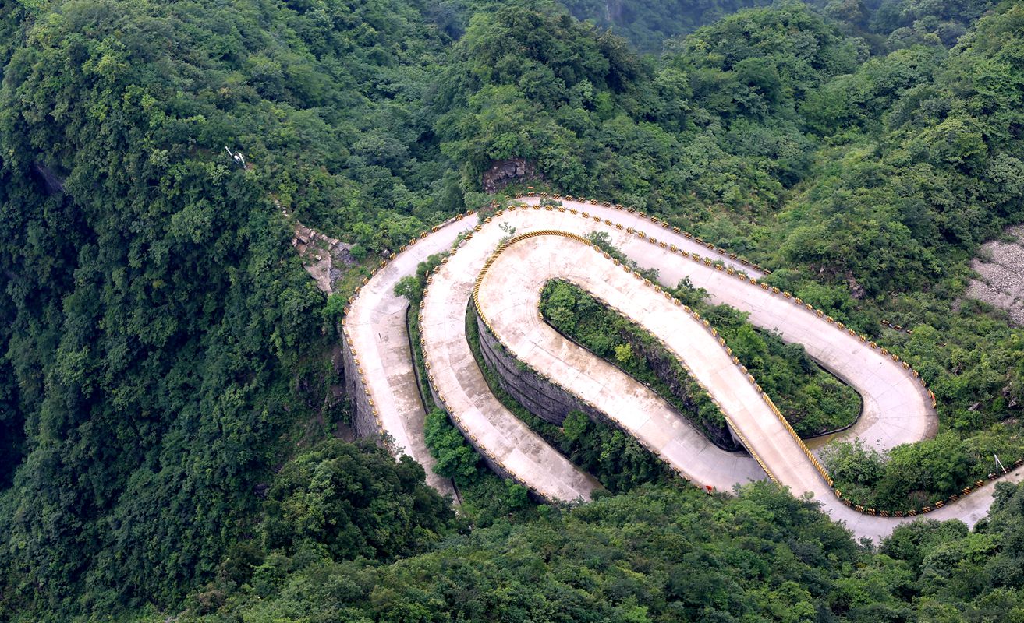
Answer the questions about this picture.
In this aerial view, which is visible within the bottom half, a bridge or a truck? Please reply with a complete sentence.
What appears within the bottom half is a bridge.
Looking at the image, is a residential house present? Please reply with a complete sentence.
No, the photo shows no residential house.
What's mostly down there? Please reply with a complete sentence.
What you mostly see from above here is trees.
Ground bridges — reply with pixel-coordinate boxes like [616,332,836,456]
[721,417,789,508]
